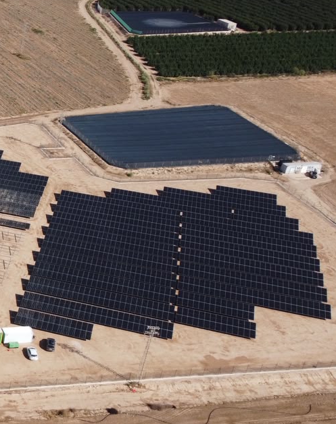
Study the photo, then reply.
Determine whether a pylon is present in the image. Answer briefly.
Yes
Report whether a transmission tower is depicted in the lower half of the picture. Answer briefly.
Yes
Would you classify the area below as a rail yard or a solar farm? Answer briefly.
solar farm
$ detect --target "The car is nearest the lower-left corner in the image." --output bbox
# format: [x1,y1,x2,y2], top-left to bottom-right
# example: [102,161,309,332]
[24,345,38,361]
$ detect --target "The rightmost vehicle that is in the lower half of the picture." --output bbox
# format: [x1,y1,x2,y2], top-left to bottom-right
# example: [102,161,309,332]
[44,334,57,352]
